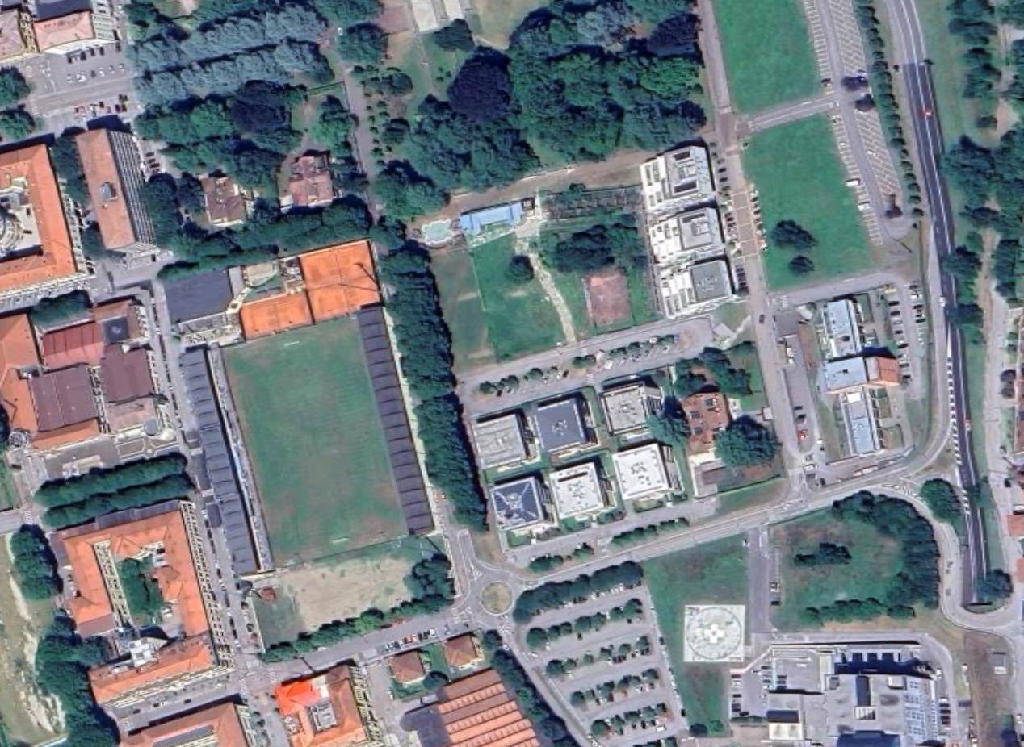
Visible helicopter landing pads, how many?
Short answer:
1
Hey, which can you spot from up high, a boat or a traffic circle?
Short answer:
traffic circle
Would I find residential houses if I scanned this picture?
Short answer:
Yes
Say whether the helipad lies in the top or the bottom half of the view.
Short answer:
bottom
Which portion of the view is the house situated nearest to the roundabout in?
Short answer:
bottom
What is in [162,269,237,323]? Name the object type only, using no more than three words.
building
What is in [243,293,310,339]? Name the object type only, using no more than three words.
tennis court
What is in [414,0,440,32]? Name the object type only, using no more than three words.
sports court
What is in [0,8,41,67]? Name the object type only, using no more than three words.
house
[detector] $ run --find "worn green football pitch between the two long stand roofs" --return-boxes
[222,313,407,569]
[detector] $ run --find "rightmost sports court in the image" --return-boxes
[584,273,633,327]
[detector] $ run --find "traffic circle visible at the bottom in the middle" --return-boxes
[462,560,526,629]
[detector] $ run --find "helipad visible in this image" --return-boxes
[684,605,745,663]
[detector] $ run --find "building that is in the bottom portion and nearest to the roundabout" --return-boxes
[442,631,484,668]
